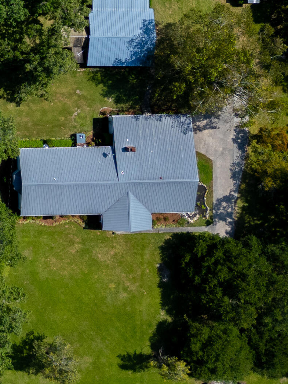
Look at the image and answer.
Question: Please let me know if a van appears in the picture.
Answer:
No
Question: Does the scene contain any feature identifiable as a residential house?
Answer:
Yes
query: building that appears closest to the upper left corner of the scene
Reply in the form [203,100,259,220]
[83,0,157,67]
